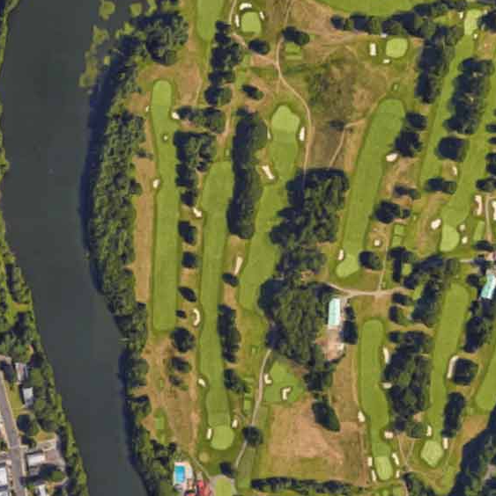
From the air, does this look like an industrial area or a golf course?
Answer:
golf course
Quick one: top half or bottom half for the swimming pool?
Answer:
bottom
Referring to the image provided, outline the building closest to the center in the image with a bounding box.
[327,297,342,328]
